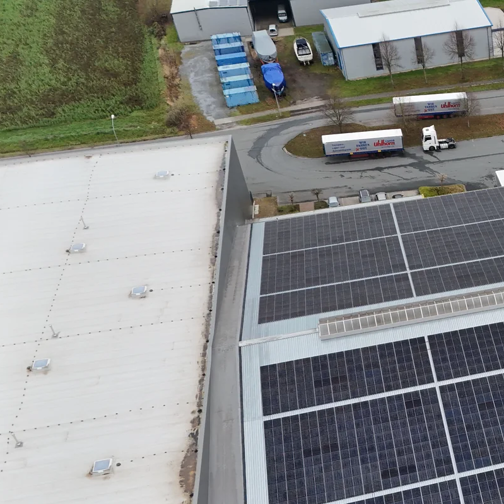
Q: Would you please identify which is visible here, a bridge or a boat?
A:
boat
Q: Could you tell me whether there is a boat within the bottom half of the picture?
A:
No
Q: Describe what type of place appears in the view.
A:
industrial area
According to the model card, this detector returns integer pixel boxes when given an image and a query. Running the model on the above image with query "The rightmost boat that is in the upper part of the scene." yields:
[295,37,315,66]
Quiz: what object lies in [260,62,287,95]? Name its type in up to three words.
boat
